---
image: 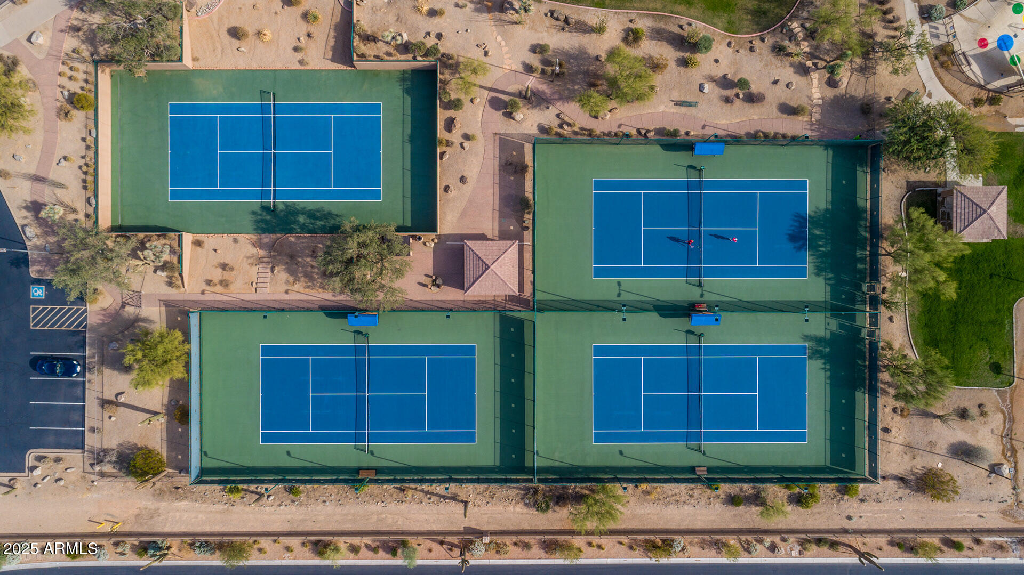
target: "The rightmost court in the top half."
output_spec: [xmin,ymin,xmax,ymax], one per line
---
[535,143,865,311]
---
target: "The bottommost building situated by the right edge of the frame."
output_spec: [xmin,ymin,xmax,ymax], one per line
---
[944,185,1008,240]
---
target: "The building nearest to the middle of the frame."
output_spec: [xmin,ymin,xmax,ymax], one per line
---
[446,240,530,295]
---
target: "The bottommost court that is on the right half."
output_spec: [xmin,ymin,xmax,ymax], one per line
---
[534,313,865,478]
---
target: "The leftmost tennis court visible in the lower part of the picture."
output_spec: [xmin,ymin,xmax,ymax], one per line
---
[200,313,534,478]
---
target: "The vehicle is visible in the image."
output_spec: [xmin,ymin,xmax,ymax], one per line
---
[37,358,81,378]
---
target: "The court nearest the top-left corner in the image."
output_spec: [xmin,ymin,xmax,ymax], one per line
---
[111,70,437,234]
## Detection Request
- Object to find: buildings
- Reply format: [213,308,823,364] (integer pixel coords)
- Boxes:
[446,240,530,295]
[944,185,1008,240]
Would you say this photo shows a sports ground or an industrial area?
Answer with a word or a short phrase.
sports ground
